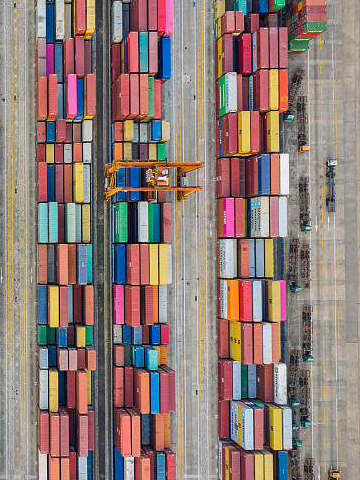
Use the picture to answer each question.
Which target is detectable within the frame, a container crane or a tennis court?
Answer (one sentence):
The image shows a container crane.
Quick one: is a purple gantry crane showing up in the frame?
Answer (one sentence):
No, I can see no purple gantry crane in this picture.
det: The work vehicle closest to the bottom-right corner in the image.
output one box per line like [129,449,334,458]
[327,467,340,480]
